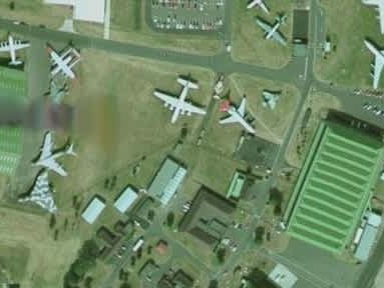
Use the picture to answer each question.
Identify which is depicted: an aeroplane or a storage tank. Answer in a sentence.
There is an aeroplane in the scene.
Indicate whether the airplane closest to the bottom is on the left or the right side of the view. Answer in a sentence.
The airplane closest to the bottom appears in the left half of the scene.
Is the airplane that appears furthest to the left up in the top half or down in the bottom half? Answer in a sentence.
The airplane that appears furthest to the left is in the top half of the image.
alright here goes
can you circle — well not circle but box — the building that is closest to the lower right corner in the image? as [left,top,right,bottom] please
[355,224,378,263]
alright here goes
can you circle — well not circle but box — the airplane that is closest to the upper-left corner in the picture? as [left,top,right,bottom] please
[0,37,31,66]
